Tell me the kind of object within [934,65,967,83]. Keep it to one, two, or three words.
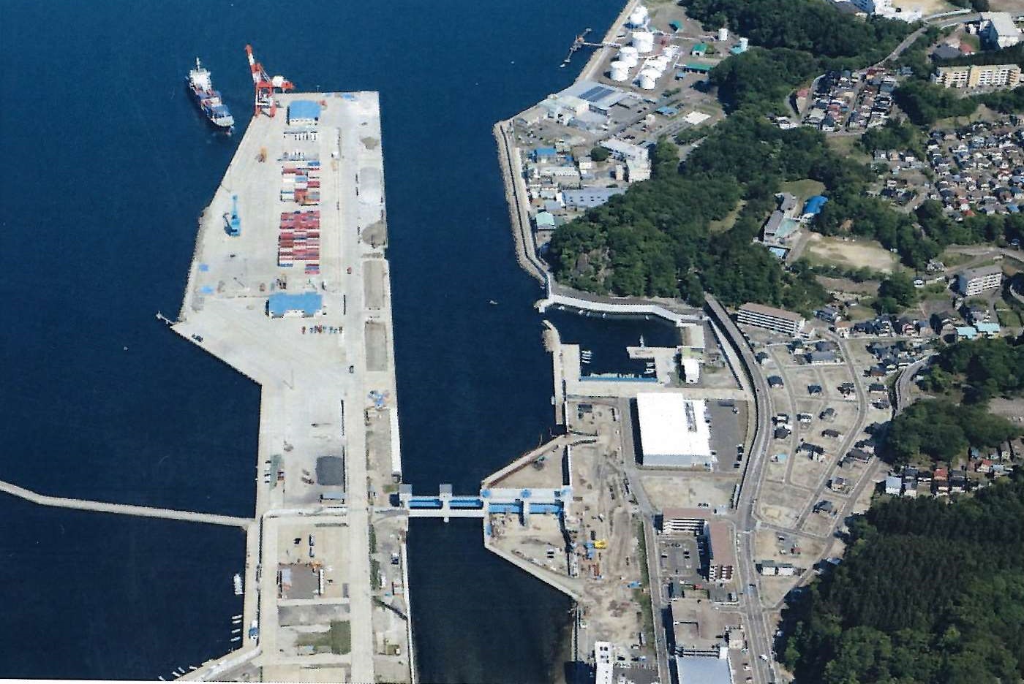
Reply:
building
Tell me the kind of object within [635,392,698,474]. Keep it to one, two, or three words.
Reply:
building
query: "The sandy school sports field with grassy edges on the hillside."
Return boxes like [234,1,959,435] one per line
[796,236,899,272]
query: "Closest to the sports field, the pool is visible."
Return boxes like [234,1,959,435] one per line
[773,246,789,259]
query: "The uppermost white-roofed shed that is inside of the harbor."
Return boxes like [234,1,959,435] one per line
[683,359,699,386]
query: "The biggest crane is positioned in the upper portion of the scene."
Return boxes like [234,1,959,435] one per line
[244,45,295,118]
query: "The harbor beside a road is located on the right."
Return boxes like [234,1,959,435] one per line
[539,295,749,424]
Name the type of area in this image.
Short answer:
port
